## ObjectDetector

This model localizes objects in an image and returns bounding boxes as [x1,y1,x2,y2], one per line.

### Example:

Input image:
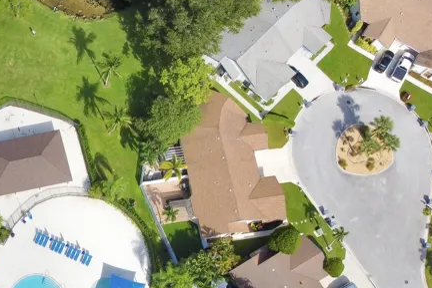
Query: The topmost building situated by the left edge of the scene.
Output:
[0,130,71,196]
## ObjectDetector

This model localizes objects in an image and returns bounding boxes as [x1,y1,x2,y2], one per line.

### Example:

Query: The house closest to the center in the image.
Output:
[180,90,285,238]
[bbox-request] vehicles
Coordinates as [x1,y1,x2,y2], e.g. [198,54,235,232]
[290,62,312,89]
[373,49,396,72]
[388,52,415,78]
[342,281,360,288]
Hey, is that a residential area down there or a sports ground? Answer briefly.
residential area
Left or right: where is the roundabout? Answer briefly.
right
